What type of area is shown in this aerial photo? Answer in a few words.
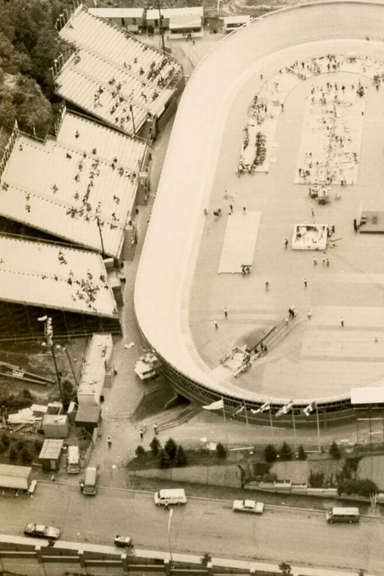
sports ground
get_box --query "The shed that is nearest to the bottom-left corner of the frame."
[39,439,63,471]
